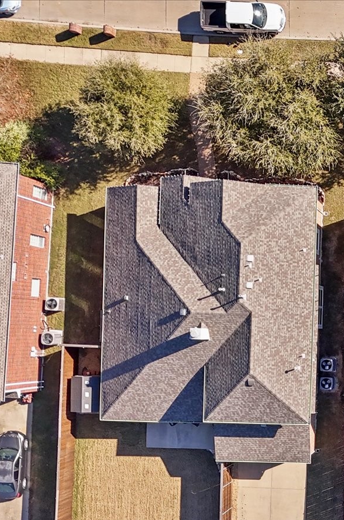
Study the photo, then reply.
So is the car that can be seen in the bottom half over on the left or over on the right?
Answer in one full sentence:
It is on the left.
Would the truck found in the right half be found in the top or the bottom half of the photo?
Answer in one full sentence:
The top half of the photo is where the truck found in the right half is.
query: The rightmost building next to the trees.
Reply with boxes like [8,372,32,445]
[100,175,326,462]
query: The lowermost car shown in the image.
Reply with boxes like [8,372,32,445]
[0,433,31,500]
